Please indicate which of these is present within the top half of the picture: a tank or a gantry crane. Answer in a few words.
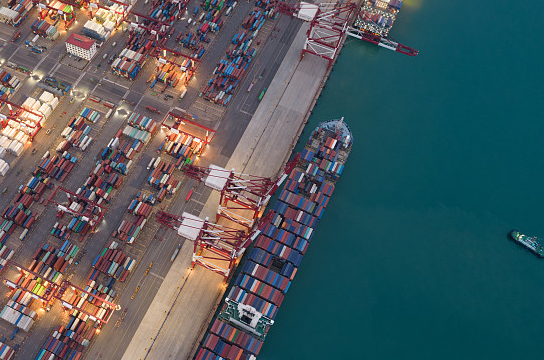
gantry crane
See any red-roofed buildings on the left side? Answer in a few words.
Yes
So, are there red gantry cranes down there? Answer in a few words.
Yes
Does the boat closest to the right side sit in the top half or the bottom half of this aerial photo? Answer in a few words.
bottom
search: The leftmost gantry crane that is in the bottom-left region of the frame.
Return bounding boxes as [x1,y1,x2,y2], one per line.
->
[0,259,59,309]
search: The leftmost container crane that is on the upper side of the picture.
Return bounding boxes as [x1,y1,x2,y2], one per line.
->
[0,98,48,142]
